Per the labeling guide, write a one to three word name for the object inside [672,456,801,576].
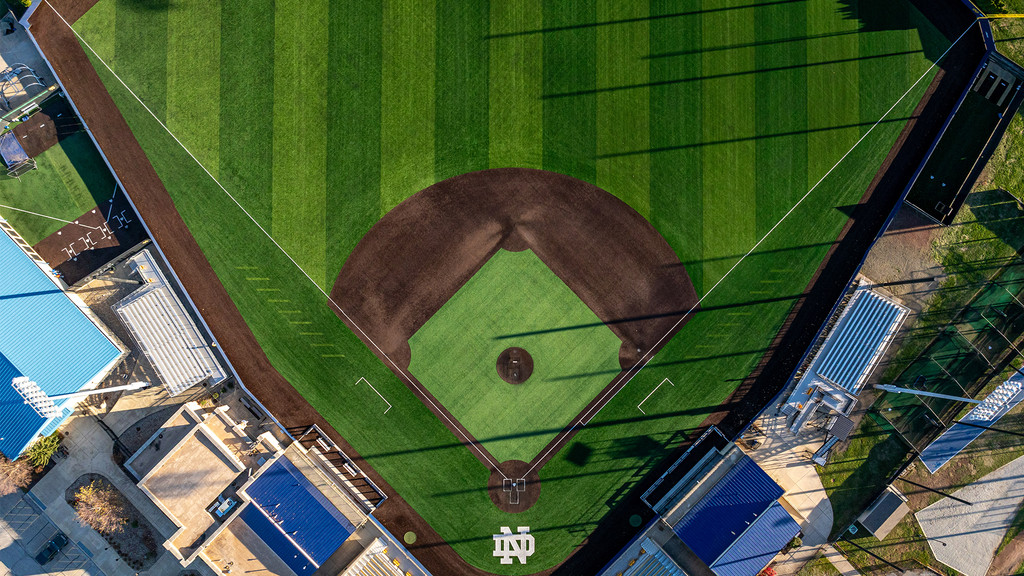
building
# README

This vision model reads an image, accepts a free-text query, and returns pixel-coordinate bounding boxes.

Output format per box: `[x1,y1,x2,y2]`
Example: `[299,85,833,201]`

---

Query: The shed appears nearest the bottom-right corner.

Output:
[857,486,909,541]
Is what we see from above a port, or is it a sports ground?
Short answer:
sports ground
